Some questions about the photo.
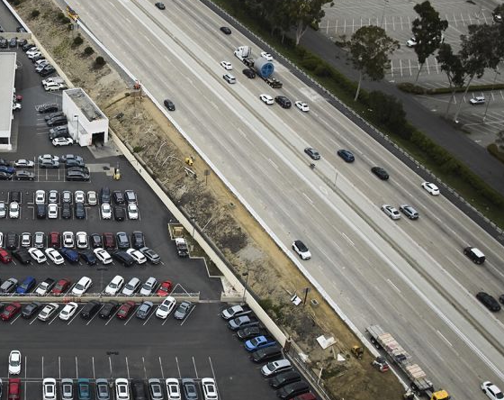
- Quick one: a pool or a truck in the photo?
truck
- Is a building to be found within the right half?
No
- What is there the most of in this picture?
paved ground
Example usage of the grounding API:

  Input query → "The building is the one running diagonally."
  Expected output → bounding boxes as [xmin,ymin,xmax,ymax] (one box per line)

[63,88,109,145]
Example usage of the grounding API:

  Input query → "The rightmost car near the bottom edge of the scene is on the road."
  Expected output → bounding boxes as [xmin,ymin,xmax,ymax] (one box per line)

[478,382,504,400]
